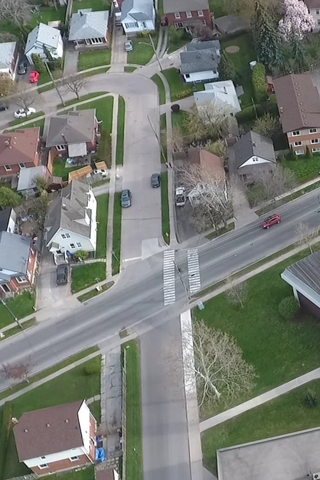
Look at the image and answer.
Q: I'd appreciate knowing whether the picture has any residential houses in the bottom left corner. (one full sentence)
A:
Yes, a residential house is visible in the bottom left corner.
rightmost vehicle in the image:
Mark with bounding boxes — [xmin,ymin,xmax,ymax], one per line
[259,213,283,230]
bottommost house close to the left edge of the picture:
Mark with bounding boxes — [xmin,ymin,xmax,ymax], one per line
[15,399,94,469]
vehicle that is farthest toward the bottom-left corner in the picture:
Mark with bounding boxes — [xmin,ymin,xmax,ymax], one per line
[54,261,69,287]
